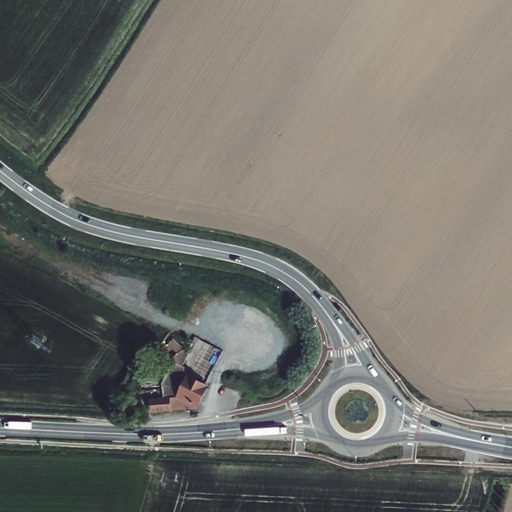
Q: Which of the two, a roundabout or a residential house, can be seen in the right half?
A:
roundabout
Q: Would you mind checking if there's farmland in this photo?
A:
Yes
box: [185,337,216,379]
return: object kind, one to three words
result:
barn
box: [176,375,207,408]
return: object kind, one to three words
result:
house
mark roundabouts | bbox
[290,337,423,457]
